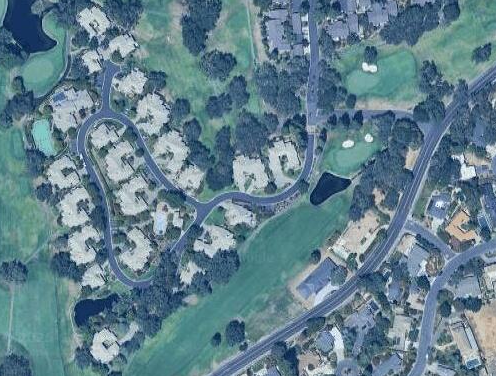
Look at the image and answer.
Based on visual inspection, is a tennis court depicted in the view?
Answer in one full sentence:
Yes, looking at the shot, I can spot a tennis court.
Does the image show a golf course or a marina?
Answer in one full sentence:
What you see here is a golf course.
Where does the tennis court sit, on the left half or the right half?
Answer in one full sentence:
You can find the tennis court on the left side of the picture.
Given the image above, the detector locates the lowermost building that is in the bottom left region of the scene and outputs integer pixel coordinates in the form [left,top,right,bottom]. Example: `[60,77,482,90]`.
[90,326,123,364]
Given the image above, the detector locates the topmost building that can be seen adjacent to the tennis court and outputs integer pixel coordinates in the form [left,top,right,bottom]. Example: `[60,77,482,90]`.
[52,90,96,129]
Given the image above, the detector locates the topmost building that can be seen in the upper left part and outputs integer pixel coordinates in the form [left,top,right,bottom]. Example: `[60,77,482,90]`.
[76,5,111,39]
